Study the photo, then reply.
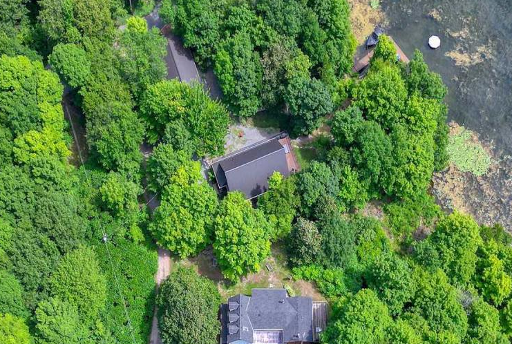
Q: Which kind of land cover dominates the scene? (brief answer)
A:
trees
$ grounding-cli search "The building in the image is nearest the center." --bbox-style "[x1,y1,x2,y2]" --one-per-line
[212,132,299,201]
